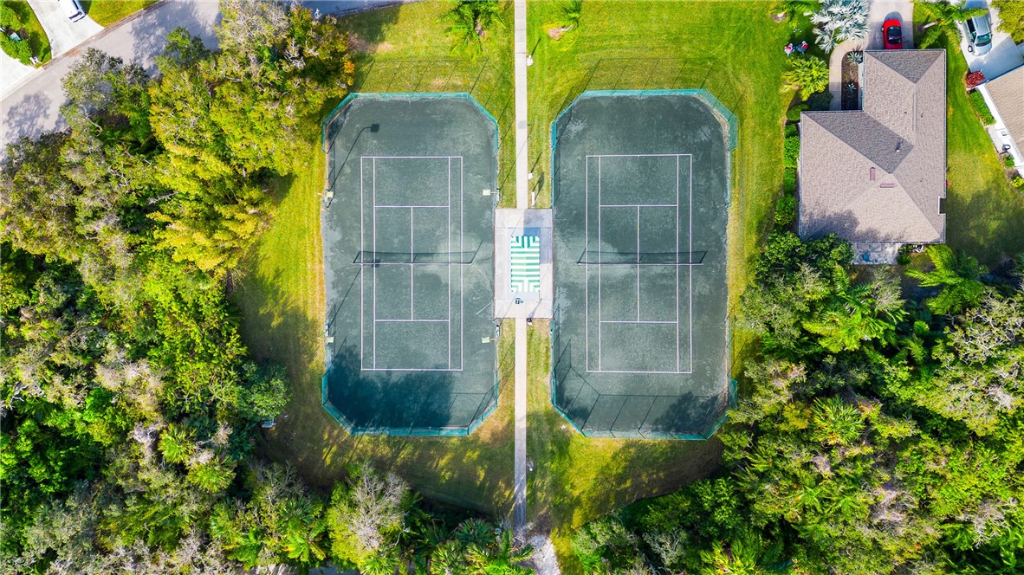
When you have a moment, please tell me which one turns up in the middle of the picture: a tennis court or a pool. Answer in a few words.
tennis court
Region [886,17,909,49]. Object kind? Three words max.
car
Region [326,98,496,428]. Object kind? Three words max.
tennis court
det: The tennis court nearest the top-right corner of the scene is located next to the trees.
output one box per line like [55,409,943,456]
[548,95,728,432]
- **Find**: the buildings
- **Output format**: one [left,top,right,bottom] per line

[790,49,946,243]
[975,65,1024,200]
